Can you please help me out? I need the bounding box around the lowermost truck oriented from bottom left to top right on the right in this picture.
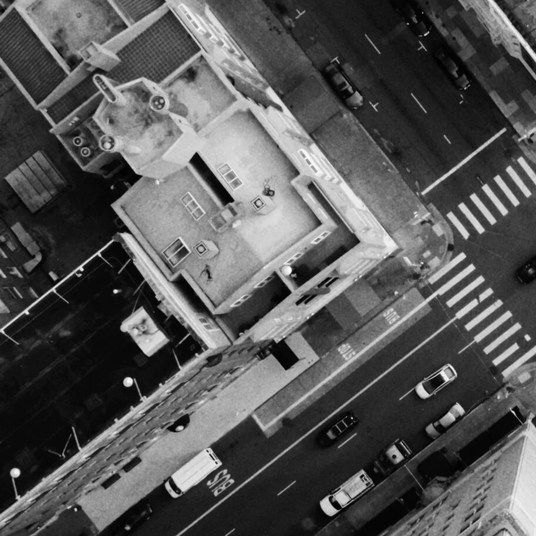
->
[320,468,375,516]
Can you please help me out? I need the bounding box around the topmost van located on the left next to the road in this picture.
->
[167,449,222,497]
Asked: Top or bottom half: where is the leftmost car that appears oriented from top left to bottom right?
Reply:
top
